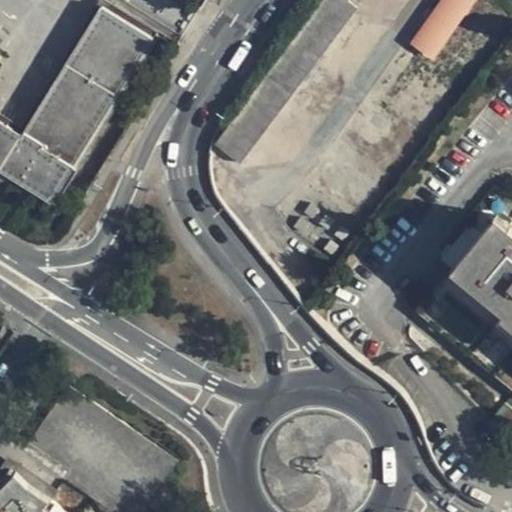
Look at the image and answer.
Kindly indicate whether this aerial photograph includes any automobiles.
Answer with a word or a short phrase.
Yes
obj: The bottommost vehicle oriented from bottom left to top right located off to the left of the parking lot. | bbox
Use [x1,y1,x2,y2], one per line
[253,416,271,434]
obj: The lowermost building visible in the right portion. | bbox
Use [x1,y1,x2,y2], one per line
[474,320,512,376]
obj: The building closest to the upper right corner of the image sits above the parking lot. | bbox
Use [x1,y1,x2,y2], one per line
[410,0,476,60]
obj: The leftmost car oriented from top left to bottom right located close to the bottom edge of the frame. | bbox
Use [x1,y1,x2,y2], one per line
[414,472,435,492]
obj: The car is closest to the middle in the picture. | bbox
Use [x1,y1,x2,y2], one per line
[246,268,266,288]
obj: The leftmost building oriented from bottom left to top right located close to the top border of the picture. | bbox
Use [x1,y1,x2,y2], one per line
[21,4,156,168]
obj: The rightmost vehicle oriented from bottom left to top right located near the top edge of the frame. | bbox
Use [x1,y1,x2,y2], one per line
[257,4,275,24]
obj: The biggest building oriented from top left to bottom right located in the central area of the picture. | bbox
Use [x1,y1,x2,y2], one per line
[294,215,324,240]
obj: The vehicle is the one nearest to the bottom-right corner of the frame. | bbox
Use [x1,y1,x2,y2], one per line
[461,482,490,504]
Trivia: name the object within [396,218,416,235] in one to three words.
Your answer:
car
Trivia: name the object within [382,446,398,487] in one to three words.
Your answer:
vehicle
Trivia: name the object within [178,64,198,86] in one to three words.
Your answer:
car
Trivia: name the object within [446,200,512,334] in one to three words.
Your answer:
building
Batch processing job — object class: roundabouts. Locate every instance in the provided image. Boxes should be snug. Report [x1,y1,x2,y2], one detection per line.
[258,408,376,512]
